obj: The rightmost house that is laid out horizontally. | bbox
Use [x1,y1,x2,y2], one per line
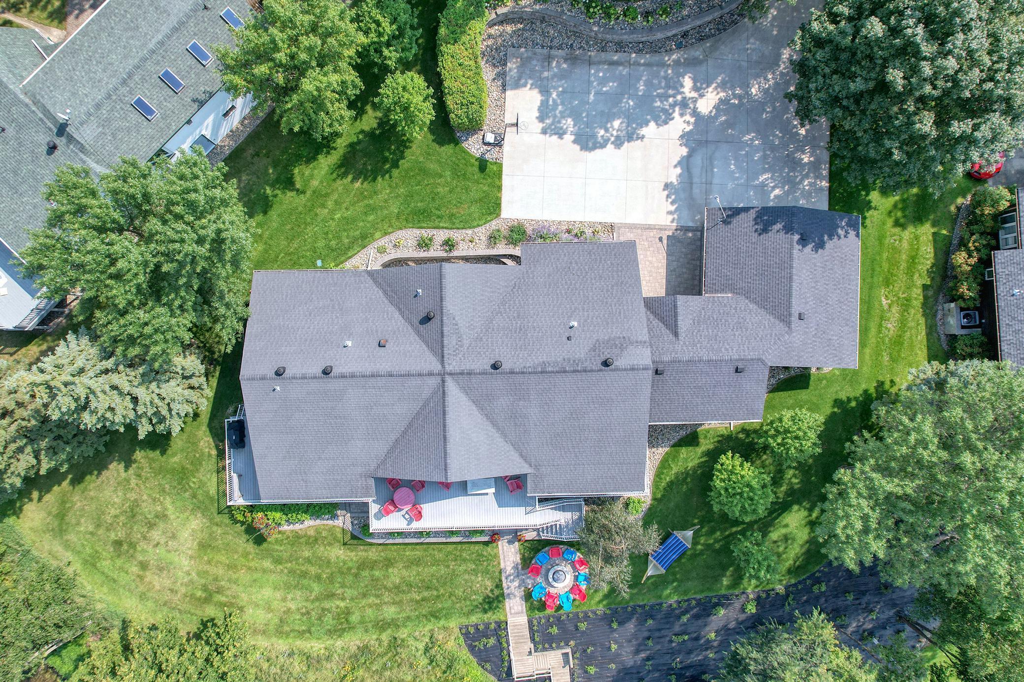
[240,194,863,505]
